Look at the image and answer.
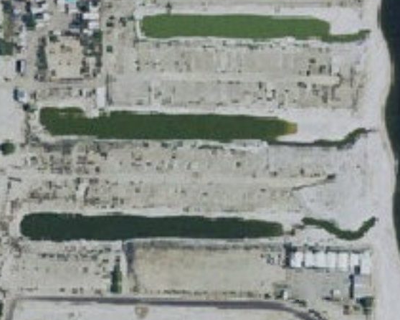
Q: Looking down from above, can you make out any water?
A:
Yes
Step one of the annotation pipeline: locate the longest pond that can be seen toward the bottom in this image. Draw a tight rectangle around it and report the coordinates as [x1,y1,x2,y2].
[21,211,283,242]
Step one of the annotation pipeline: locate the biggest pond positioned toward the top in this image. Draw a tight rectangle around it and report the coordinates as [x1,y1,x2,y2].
[39,106,375,148]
